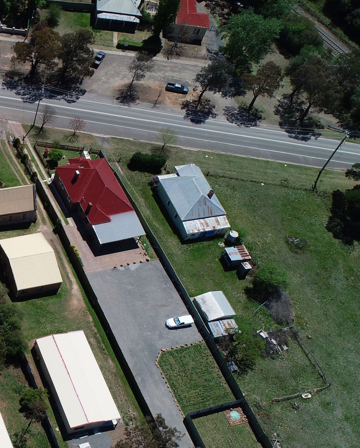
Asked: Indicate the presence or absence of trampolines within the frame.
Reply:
No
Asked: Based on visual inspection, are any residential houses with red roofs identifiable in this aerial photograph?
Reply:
Yes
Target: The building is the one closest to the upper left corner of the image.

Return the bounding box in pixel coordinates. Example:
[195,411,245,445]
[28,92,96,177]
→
[94,0,142,31]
